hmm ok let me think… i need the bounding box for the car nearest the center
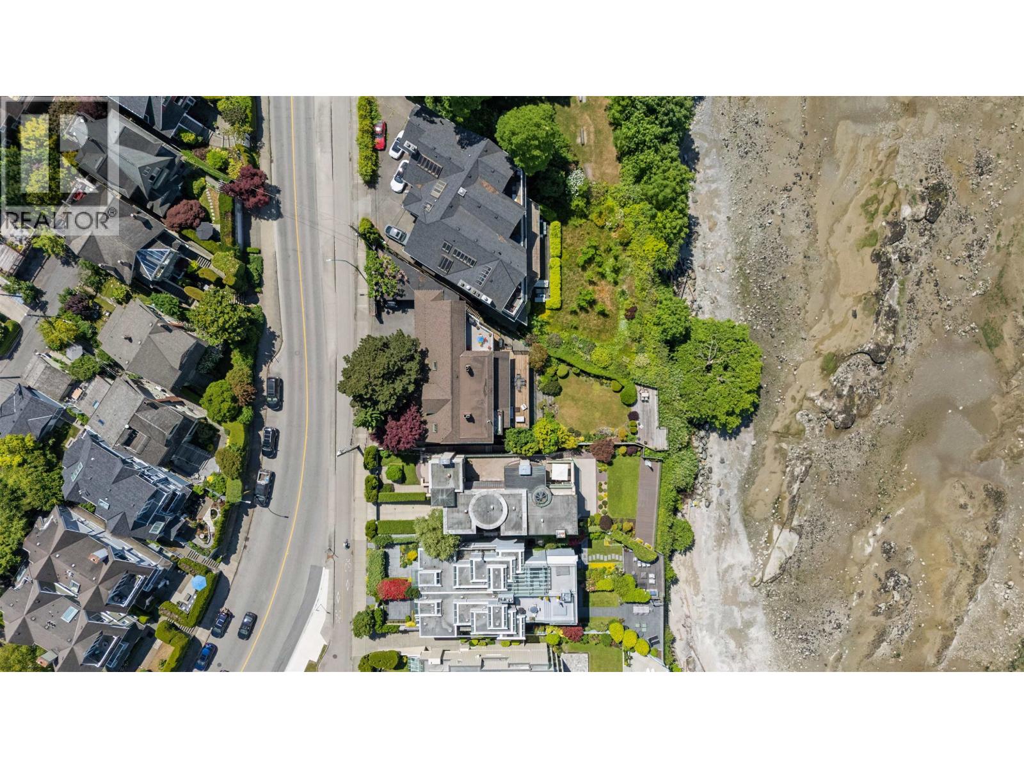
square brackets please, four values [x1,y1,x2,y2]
[377,296,408,311]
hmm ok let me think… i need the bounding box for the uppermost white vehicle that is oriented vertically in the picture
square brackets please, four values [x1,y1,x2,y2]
[387,130,404,162]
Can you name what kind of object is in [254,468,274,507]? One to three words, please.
vehicle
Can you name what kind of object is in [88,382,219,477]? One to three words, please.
house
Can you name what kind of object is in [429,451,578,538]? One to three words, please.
house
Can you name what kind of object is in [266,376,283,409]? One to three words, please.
car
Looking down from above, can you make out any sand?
Yes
